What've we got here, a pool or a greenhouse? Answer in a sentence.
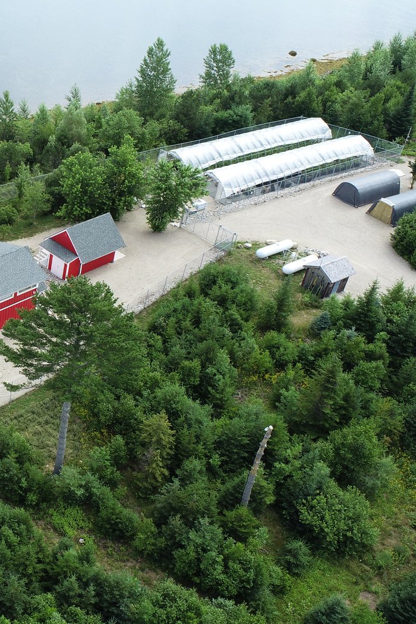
Looking from above, you can make out a greenhouse.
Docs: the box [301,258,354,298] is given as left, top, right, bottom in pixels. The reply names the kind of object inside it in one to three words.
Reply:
shed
